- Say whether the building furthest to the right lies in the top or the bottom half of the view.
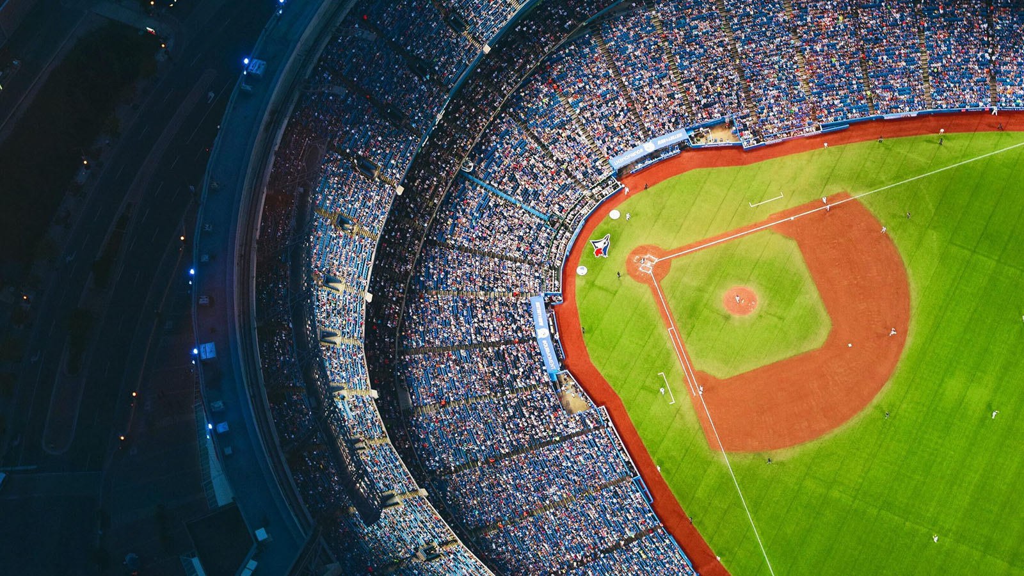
bottom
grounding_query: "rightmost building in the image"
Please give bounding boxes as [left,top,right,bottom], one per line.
[184,502,255,576]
